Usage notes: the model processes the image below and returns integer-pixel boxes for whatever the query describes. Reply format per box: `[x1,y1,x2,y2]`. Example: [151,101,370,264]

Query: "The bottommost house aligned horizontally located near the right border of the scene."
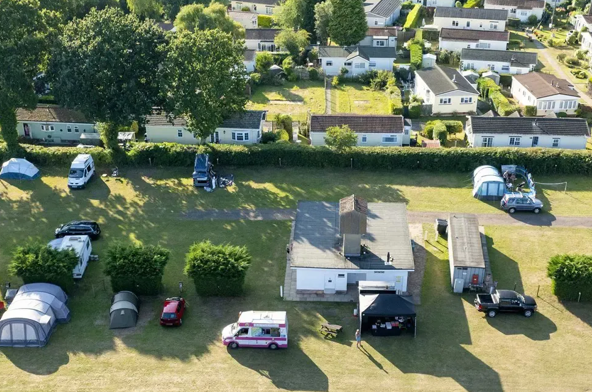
[461,115,591,150]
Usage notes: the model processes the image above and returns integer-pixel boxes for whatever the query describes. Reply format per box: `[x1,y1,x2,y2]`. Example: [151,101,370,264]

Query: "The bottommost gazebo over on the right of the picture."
[359,296,419,337]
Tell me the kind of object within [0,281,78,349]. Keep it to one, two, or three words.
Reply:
tent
